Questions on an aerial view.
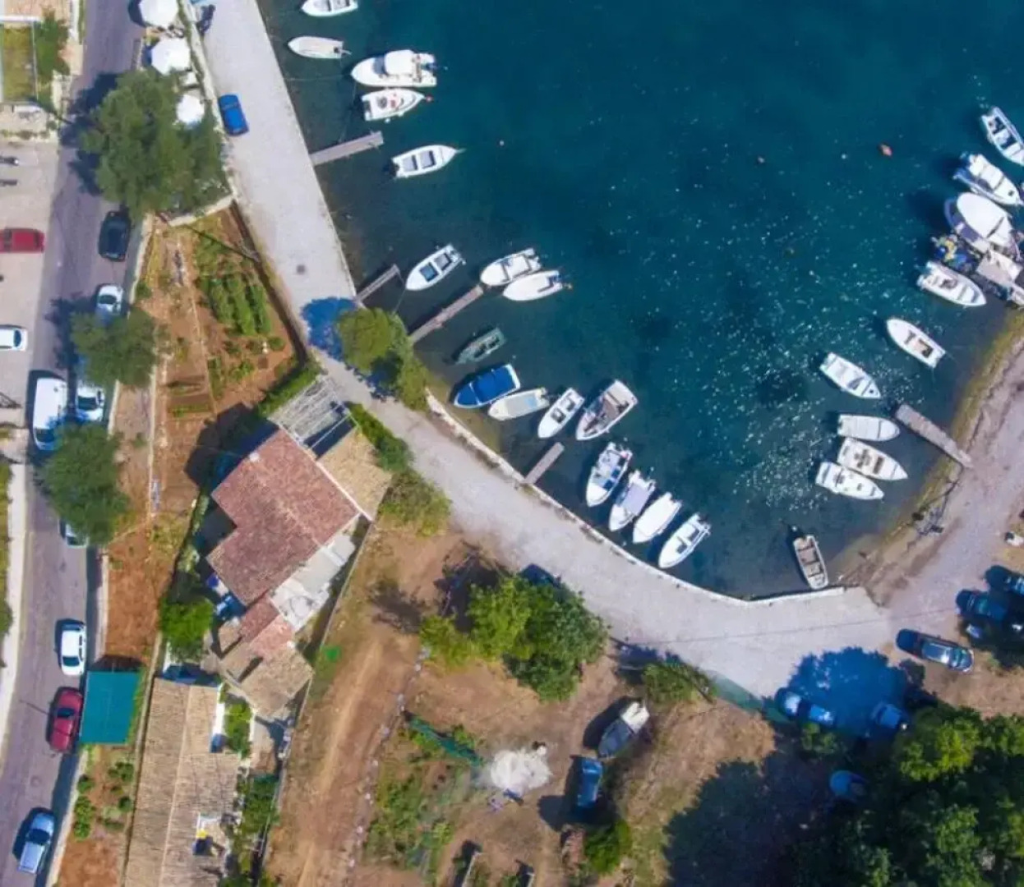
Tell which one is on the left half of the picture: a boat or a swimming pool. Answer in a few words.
boat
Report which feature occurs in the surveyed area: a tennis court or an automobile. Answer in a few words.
automobile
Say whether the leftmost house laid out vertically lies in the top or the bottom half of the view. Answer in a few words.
bottom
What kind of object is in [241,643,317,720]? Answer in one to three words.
shed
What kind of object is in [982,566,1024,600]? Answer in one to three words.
car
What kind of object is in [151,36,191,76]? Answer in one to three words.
umbrella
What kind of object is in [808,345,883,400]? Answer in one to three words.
boat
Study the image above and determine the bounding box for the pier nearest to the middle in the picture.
[520,442,567,488]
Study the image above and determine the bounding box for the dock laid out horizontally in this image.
[308,129,385,163]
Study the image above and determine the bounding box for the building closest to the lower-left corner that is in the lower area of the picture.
[123,674,239,887]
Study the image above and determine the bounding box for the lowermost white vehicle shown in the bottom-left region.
[58,620,90,675]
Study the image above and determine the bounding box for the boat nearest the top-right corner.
[971,98,1024,166]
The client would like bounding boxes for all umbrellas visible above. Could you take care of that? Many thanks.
[138,0,180,28]
[151,36,191,76]
[177,96,207,126]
